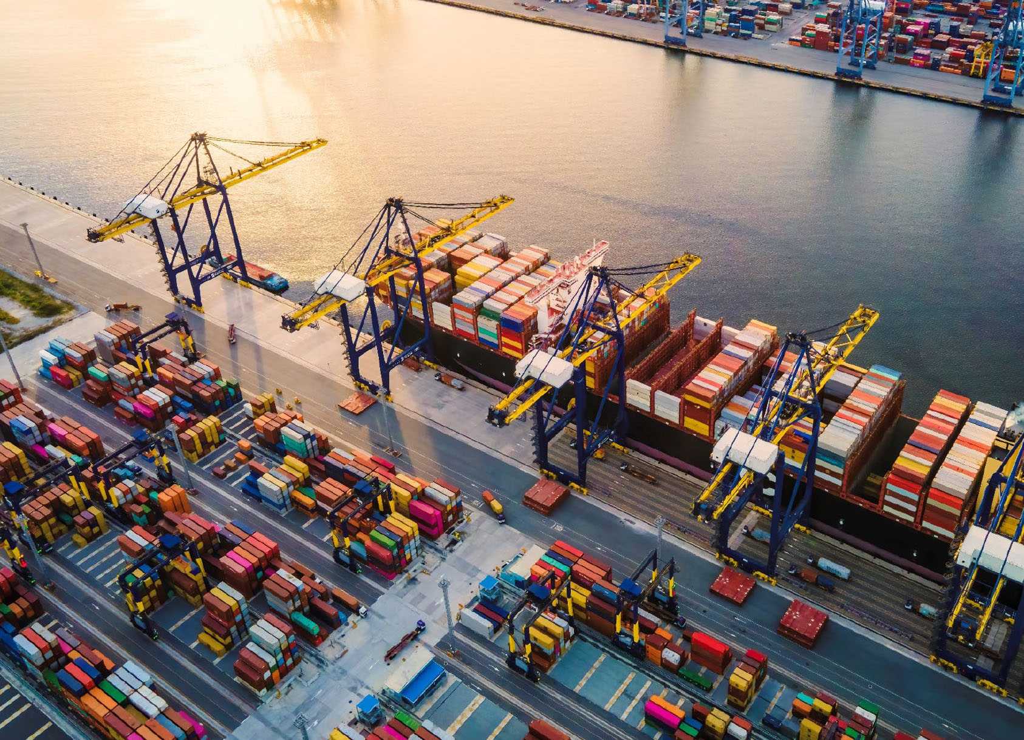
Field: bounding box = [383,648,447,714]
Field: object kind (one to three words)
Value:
building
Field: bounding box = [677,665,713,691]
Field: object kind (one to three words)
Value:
shipping container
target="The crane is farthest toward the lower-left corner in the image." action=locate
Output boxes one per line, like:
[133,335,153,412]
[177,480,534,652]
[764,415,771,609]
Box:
[0,521,35,581]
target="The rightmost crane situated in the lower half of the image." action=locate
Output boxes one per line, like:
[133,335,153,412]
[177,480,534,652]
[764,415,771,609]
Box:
[935,470,1024,694]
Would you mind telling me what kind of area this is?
port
